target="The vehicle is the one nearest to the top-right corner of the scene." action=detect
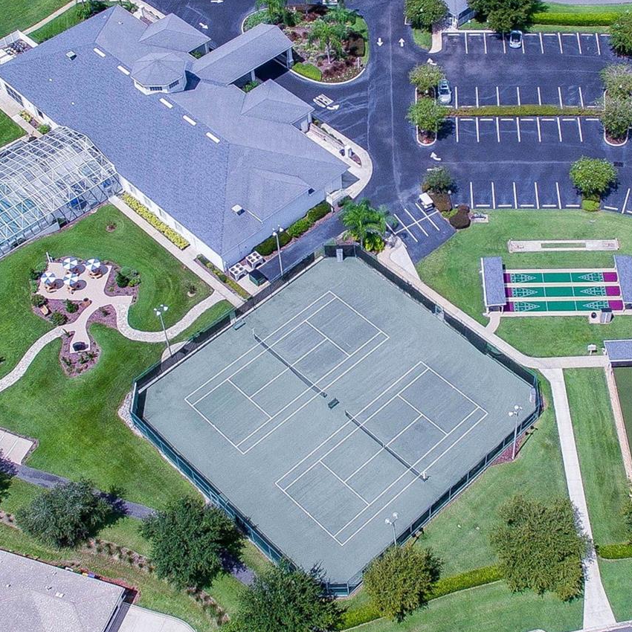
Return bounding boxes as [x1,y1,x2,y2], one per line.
[510,28,524,48]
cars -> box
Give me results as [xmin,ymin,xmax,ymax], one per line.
[510,28,524,48]
[439,80,453,103]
